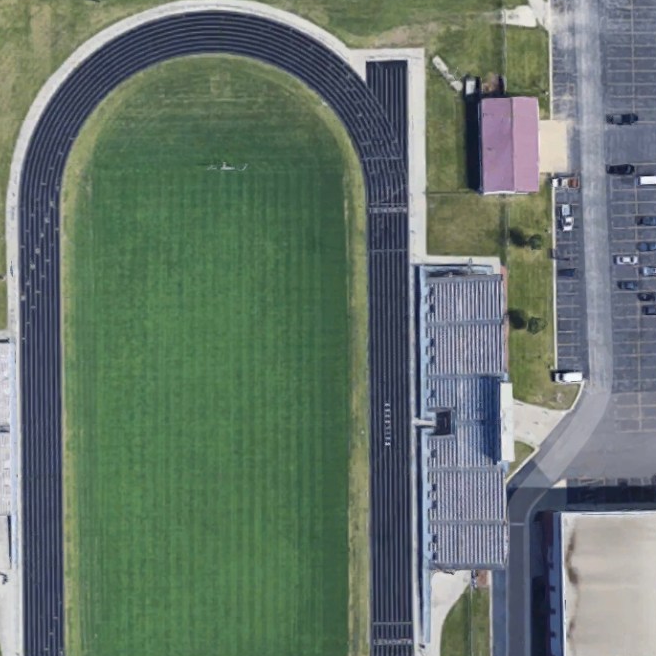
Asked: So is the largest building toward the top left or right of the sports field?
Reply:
to the right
